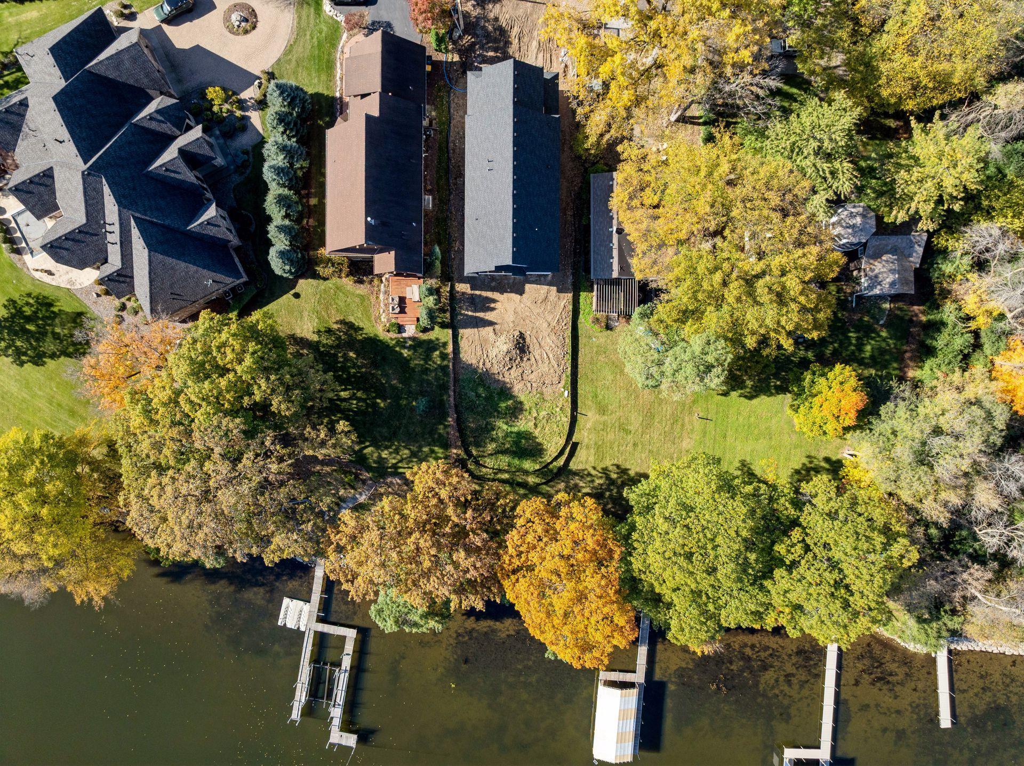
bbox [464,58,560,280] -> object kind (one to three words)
house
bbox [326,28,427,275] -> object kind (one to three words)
house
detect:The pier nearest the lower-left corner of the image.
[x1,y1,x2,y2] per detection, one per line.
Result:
[288,558,358,754]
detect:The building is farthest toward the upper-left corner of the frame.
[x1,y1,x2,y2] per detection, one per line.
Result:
[0,6,250,322]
